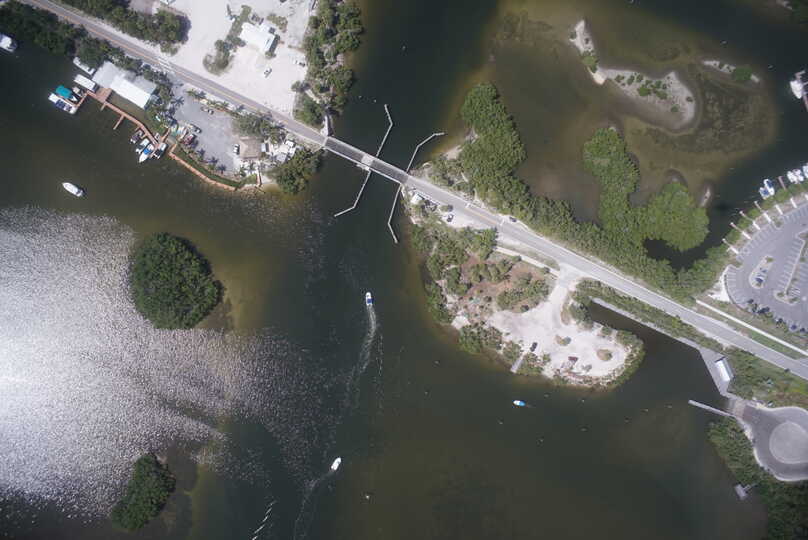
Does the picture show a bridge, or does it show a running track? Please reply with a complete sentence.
The image shows a bridge.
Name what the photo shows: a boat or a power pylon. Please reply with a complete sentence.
This aerial view contains a boat.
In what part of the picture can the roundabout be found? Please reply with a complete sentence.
The roundabout sits in the bottom right section of the image.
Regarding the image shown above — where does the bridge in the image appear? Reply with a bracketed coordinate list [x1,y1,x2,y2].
[324,134,407,186]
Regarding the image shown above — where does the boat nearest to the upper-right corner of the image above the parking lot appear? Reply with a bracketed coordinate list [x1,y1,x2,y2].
[789,81,807,102]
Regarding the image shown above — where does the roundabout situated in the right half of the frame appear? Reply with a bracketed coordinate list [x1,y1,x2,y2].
[743,400,808,482]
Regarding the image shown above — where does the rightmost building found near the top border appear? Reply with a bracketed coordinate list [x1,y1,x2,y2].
[240,23,275,51]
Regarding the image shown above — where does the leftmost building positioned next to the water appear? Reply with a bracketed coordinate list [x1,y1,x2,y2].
[94,60,157,109]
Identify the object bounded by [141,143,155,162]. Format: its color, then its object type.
white boat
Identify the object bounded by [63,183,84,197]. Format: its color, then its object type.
white boat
